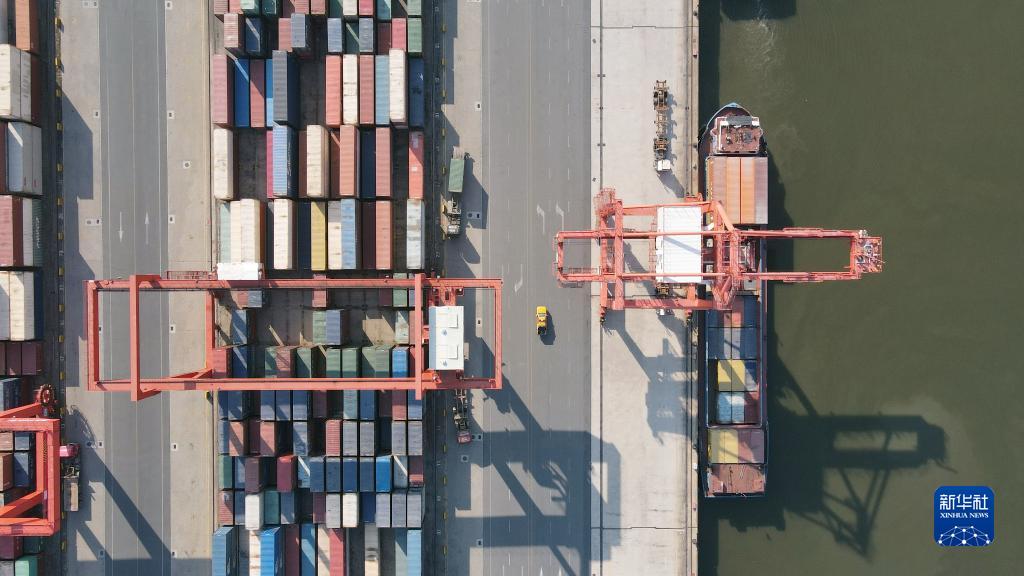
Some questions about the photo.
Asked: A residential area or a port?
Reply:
port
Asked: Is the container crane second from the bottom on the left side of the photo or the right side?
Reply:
left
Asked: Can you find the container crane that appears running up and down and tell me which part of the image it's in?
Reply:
bottom left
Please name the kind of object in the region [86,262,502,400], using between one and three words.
container crane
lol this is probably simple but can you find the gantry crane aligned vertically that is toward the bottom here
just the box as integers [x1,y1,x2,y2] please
[0,386,59,535]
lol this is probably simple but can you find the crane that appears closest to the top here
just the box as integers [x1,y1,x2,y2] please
[553,190,885,322]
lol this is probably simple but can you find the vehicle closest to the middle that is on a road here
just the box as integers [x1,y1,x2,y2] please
[536,306,548,334]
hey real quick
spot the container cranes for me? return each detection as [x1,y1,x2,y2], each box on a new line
[0,386,59,535]
[86,262,502,400]
[553,190,885,322]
